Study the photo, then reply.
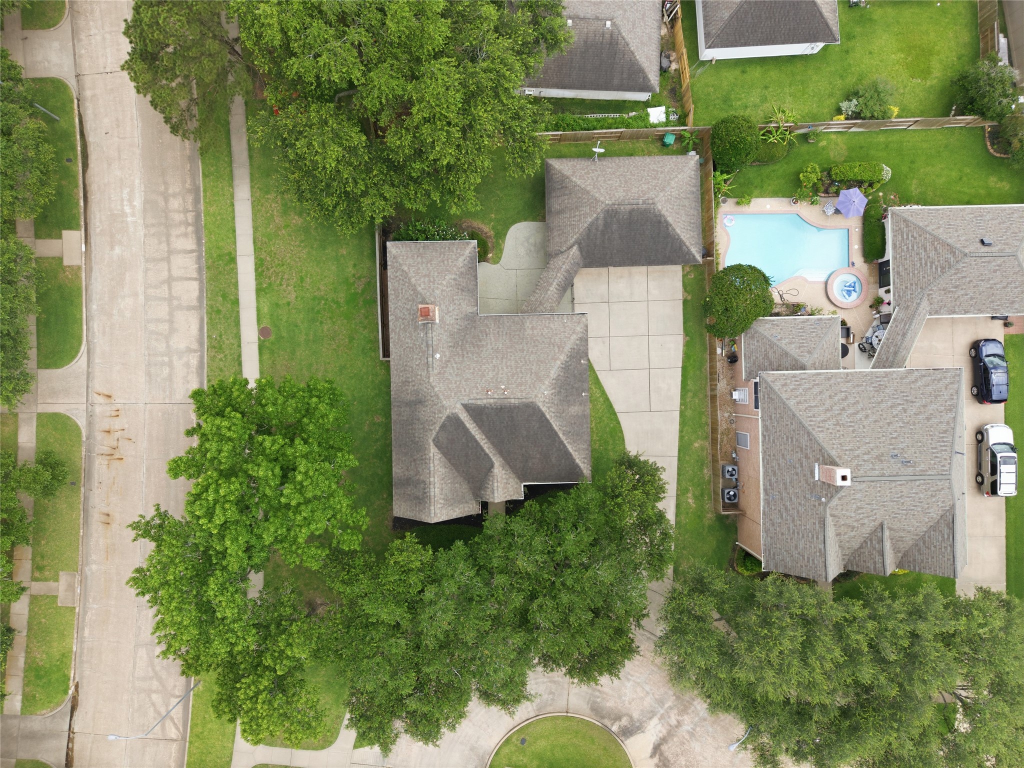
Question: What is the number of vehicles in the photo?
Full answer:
Altogether the scene contains 2 vehicles.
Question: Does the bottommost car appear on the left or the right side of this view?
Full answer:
The bottommost car sits on the right side.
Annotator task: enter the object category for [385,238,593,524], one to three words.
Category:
house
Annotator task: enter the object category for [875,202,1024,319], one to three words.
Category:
house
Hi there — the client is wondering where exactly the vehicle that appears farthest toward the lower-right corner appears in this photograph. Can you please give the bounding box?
[977,423,1020,495]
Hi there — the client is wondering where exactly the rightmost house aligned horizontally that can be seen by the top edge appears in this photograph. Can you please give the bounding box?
[696,0,843,61]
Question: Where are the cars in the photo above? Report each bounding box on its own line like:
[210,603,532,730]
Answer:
[977,423,1020,495]
[971,339,1012,404]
